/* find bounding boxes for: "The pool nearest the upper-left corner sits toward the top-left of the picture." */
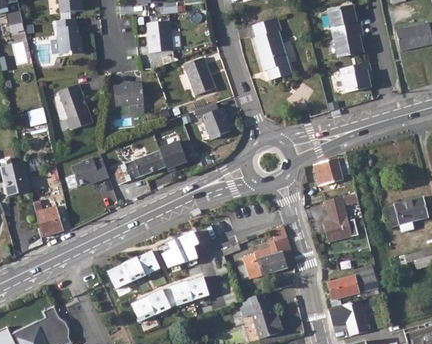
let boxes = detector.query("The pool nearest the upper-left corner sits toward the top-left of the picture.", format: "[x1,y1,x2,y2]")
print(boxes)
[38,42,52,64]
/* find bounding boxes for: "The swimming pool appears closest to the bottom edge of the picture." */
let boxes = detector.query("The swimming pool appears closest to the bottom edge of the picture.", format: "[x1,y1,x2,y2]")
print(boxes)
[114,116,134,128]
